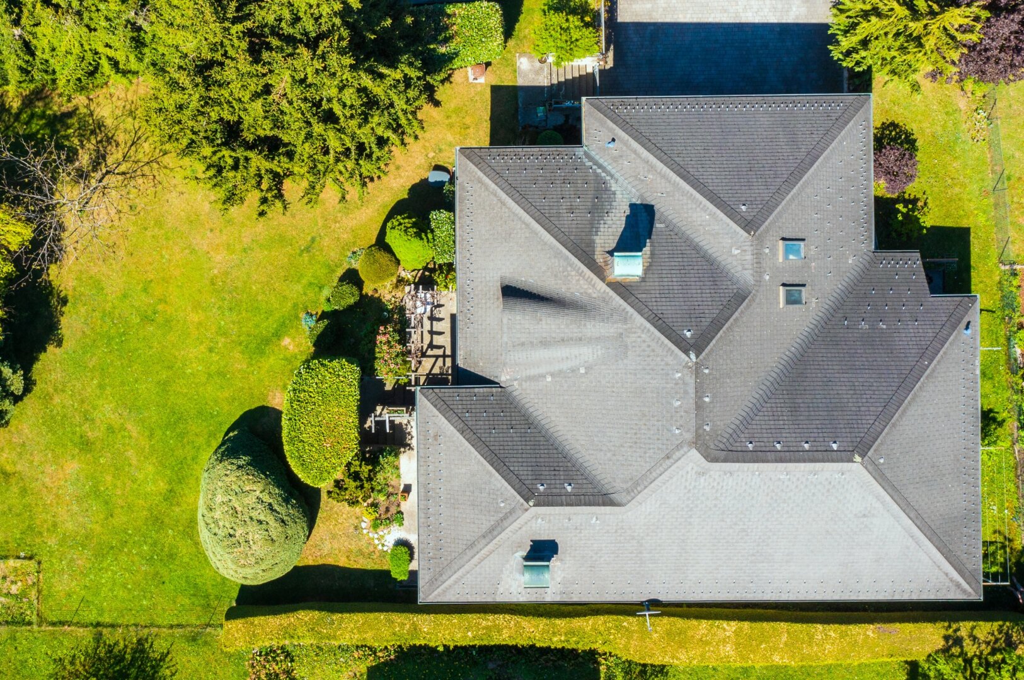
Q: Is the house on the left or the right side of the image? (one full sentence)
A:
The house is on the right side of the image.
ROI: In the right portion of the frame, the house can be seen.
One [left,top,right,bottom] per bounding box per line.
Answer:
[412,91,985,607]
